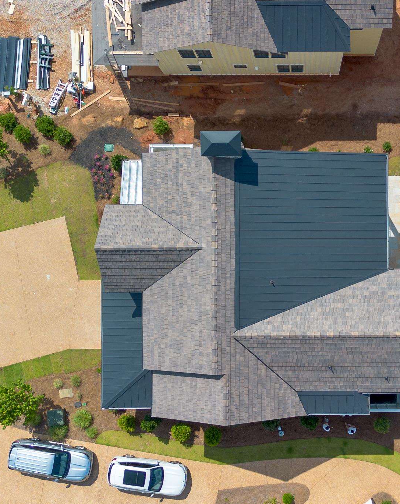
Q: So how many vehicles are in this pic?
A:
two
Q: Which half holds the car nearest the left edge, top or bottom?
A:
bottom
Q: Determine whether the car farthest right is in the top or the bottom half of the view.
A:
bottom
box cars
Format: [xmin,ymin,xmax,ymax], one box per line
[107,454,190,501]
[8,437,98,485]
